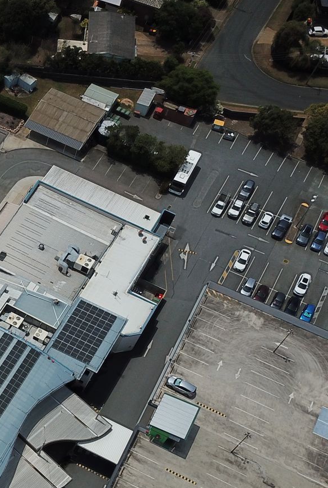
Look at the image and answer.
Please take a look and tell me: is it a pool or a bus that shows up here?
bus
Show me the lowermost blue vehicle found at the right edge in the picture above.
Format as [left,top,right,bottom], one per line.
[299,304,317,323]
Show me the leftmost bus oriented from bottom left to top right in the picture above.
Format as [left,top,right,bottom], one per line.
[167,148,203,194]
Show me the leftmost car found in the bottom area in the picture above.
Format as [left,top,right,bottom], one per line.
[167,378,197,398]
